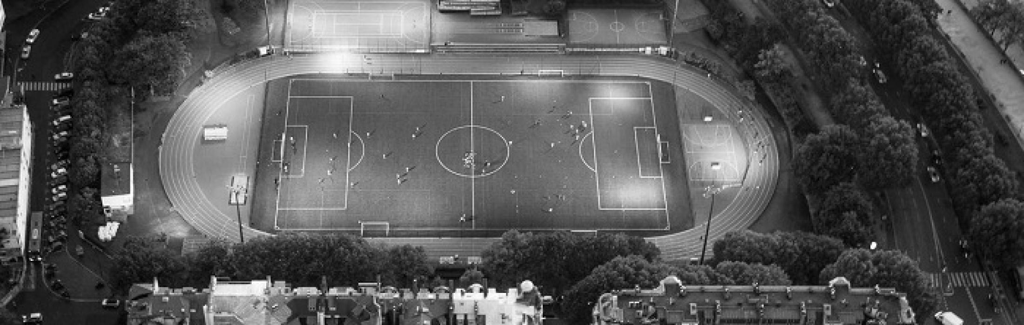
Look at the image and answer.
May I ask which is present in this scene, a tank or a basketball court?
basketball court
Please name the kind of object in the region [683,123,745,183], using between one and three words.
basketball court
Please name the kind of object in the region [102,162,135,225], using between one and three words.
building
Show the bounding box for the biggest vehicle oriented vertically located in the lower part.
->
[27,206,42,262]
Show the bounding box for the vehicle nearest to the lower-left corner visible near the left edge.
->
[20,311,43,323]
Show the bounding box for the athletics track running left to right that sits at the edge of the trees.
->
[161,53,778,263]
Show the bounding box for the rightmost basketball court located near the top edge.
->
[566,8,669,46]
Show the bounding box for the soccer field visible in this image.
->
[250,72,696,238]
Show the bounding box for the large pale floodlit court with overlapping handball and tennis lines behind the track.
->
[280,0,431,50]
